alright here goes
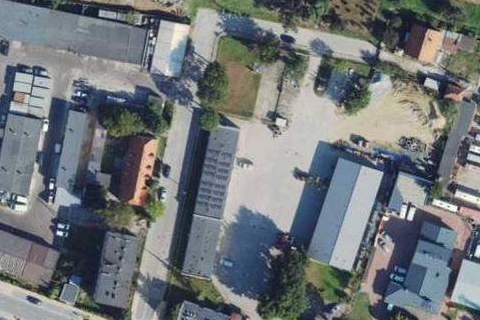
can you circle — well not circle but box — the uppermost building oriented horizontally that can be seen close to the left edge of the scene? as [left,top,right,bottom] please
[0,0,147,65]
